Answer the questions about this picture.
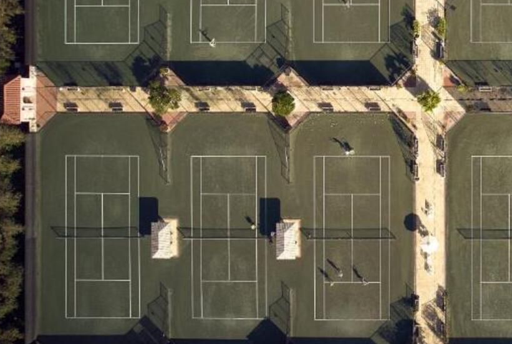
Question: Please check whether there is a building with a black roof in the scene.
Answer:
No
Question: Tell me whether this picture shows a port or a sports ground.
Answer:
sports ground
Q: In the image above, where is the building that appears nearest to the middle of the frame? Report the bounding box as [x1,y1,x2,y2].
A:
[276,220,300,260]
